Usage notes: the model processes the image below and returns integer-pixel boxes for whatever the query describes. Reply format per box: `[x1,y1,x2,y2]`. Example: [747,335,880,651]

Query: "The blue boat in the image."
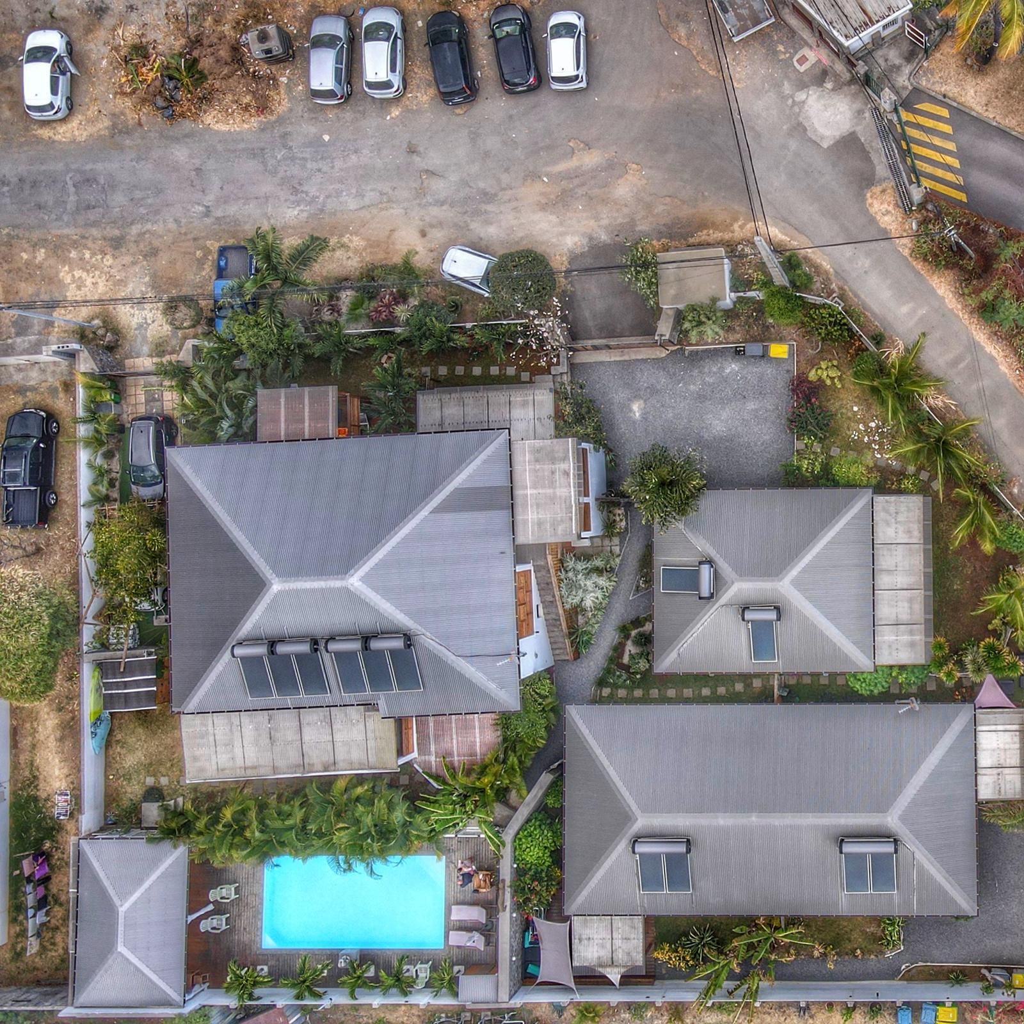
[91,711,108,756]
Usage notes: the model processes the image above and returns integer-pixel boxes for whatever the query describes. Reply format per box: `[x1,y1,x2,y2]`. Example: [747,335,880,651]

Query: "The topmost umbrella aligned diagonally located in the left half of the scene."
[191,904,213,924]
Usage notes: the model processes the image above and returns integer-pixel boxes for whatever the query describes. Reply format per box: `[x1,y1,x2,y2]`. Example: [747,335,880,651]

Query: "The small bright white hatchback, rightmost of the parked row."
[543,11,589,92]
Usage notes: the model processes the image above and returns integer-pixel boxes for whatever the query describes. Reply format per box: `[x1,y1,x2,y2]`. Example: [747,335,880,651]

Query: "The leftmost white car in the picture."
[21,32,90,122]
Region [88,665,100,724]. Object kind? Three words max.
boat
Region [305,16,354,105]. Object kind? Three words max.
car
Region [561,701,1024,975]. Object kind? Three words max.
house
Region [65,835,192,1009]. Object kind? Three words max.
building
